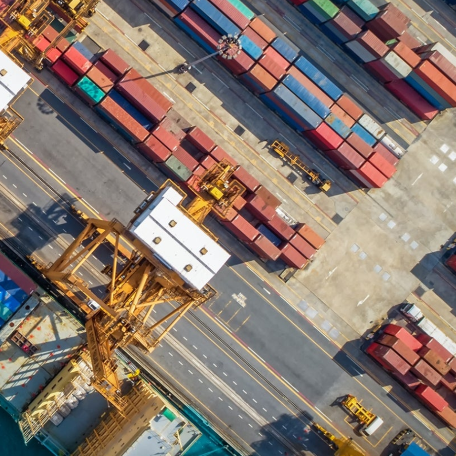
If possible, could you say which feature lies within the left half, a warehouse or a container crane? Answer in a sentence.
Looking within the left half, you will find a container crane.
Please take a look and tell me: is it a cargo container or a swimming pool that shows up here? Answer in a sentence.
Looking from above, you can make out a cargo container.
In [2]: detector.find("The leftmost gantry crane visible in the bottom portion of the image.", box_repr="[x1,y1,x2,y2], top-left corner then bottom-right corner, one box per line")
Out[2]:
[32,160,257,432]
